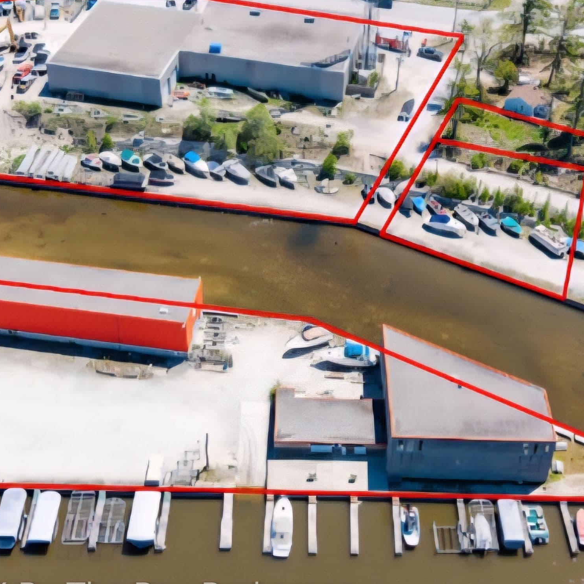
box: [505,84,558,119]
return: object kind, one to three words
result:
house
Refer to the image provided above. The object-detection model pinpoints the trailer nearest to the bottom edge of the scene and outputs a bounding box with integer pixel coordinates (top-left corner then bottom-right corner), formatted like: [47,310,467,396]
[142,445,163,486]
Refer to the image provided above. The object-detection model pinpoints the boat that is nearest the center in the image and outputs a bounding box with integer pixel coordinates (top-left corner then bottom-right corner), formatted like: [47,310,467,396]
[285,325,340,346]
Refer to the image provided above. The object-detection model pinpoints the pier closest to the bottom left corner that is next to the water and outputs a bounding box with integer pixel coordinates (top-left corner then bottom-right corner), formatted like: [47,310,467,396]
[18,493,39,550]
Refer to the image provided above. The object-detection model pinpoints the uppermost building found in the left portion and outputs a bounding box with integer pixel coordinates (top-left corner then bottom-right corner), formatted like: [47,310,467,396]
[46,0,365,107]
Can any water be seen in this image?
Yes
